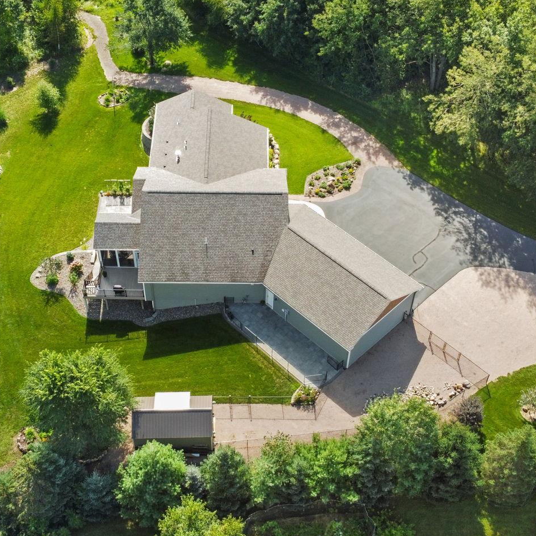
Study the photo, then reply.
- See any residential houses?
Yes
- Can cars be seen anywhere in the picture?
No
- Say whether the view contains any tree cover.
Yes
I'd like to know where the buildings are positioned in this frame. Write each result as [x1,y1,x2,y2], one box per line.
[130,389,214,453]
[81,88,423,369]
